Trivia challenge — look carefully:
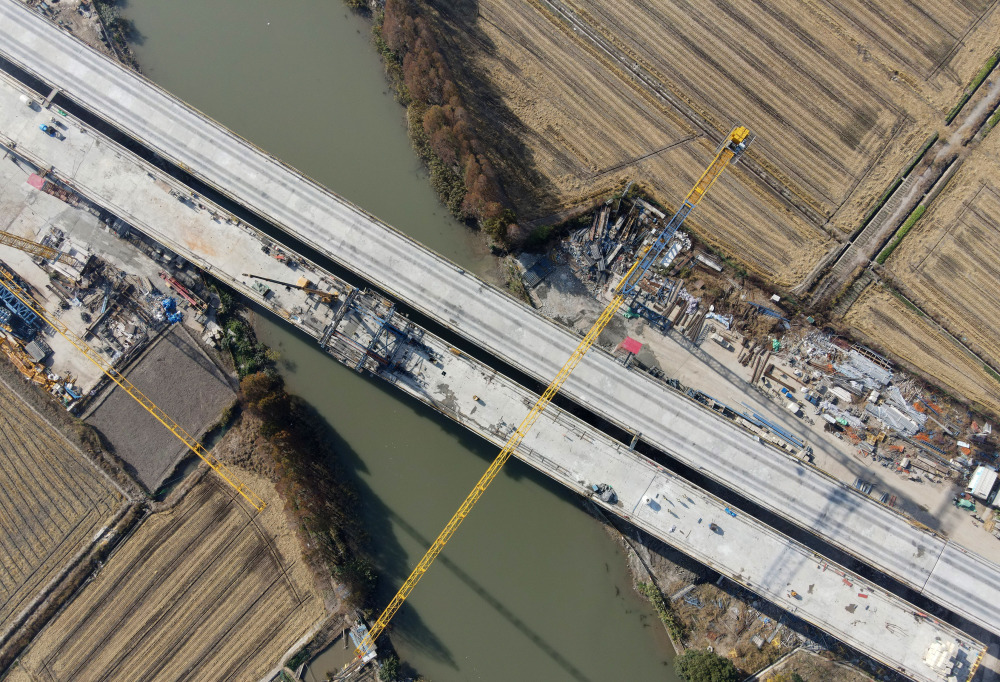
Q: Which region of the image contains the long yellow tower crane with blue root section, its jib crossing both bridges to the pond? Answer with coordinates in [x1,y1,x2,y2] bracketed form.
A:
[356,128,751,651]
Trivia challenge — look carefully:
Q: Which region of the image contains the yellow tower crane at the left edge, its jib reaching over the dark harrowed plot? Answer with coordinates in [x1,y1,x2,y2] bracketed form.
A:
[0,230,269,514]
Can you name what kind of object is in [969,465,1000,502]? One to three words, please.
shed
